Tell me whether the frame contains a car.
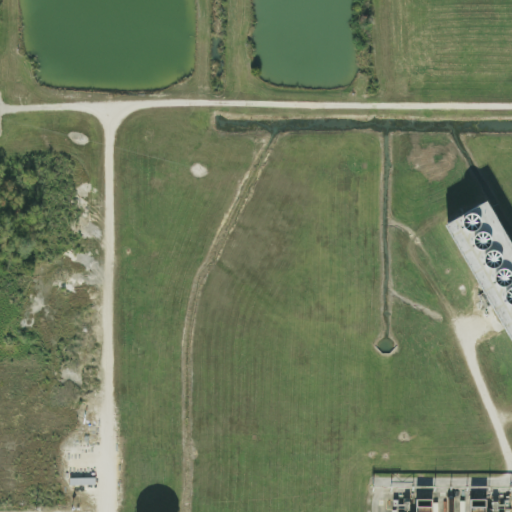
No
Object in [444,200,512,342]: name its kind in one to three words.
cooling tower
